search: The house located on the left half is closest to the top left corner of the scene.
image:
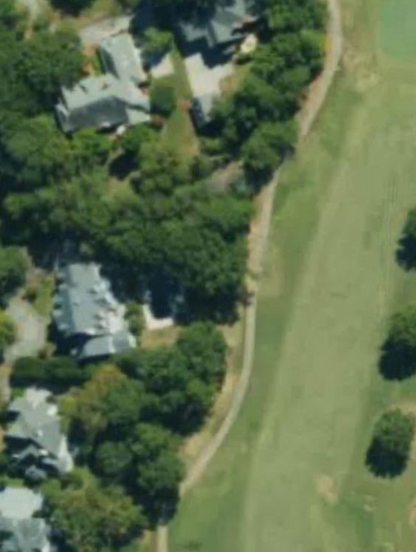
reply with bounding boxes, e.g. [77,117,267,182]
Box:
[56,30,159,130]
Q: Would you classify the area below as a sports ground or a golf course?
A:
golf course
